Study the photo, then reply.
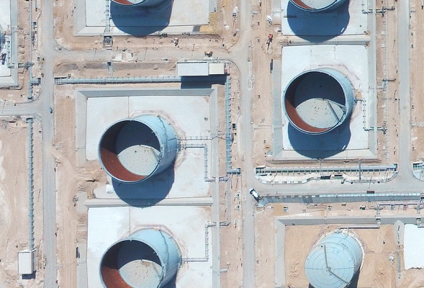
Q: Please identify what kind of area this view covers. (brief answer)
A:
industrial area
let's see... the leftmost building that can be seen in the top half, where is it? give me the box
[177,61,212,76]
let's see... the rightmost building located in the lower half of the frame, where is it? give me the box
[19,250,39,274]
